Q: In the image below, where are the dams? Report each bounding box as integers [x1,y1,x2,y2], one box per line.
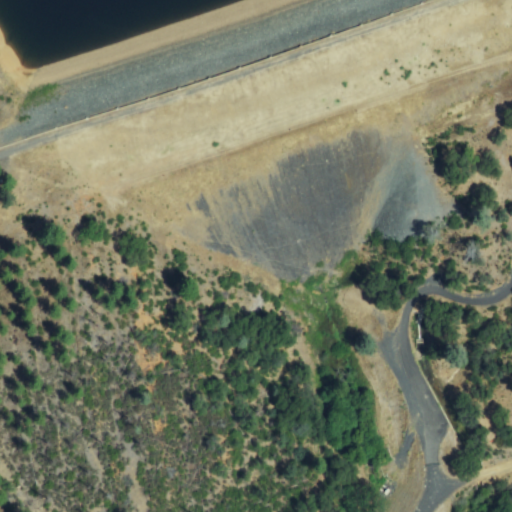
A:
[0,0,512,193]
